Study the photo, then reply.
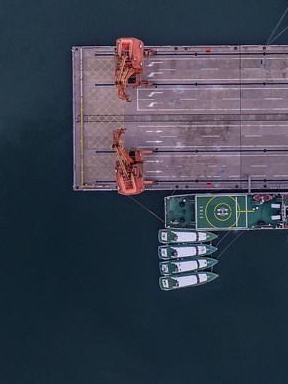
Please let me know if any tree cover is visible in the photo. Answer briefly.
No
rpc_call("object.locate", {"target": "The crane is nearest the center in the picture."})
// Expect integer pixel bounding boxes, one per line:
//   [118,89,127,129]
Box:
[113,128,155,195]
